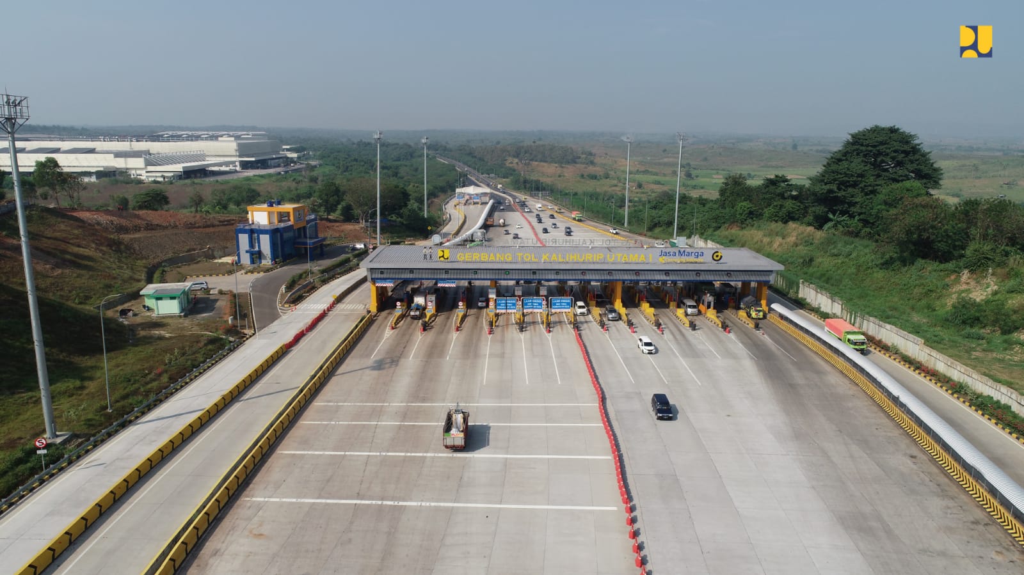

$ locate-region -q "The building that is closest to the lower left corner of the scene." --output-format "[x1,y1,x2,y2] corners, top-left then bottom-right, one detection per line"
[125,280,198,316]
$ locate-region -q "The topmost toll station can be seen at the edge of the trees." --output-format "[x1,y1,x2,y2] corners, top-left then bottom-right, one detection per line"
[454,184,492,204]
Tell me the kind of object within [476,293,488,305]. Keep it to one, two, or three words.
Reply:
vehicle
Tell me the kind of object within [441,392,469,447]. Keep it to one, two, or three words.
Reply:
truck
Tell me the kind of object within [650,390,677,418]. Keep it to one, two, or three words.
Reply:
car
